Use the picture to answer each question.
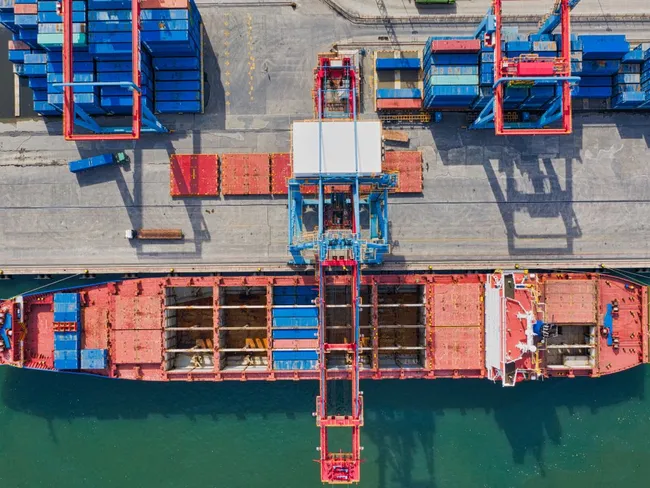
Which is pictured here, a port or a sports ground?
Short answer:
port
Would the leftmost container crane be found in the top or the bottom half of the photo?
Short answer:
top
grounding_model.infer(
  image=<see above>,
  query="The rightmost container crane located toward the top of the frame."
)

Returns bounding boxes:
[453,0,583,135]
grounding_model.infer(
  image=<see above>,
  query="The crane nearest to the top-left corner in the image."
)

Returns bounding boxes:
[50,0,183,138]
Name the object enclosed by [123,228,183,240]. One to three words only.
vehicle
